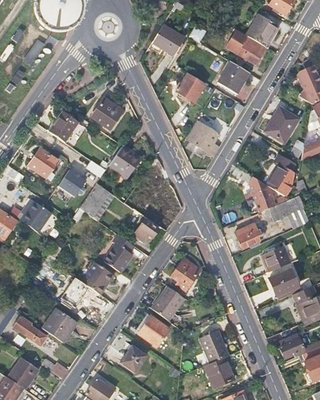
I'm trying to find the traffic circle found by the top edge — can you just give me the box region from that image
[94,12,123,41]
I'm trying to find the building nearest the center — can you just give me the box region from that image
[134,218,162,245]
